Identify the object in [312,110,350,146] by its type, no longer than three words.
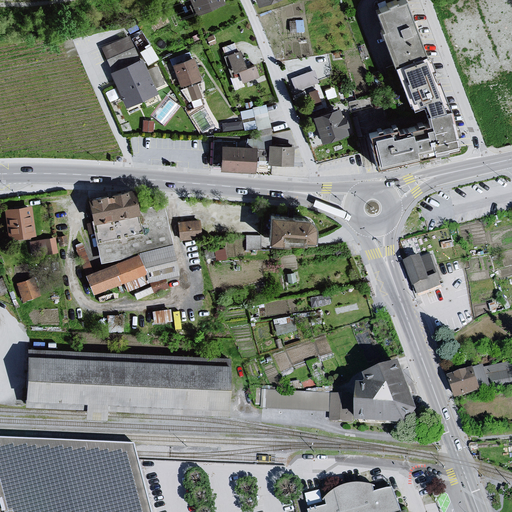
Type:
house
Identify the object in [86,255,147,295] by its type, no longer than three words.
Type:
barn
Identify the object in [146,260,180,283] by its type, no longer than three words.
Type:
building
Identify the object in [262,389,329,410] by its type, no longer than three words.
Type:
shed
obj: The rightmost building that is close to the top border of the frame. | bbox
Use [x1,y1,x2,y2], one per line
[368,0,460,172]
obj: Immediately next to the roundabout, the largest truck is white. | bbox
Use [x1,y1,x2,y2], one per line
[312,200,352,222]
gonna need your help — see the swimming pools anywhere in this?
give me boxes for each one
[151,96,180,126]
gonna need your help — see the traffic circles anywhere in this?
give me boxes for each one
[344,178,402,236]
